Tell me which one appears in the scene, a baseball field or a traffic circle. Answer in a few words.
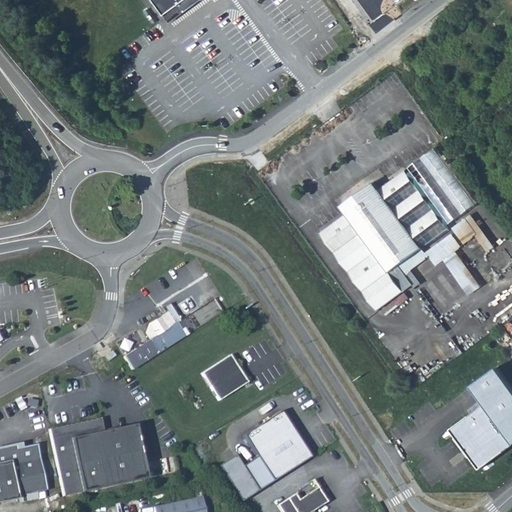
traffic circle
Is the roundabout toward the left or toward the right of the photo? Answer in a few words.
left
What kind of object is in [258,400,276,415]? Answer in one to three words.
vehicle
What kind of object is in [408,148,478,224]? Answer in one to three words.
building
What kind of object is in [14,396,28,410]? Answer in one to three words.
vehicle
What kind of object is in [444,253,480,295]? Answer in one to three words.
building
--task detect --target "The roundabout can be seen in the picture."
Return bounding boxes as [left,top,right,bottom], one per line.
[6,118,175,266]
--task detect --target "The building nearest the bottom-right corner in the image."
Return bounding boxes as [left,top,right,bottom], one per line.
[442,366,512,470]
